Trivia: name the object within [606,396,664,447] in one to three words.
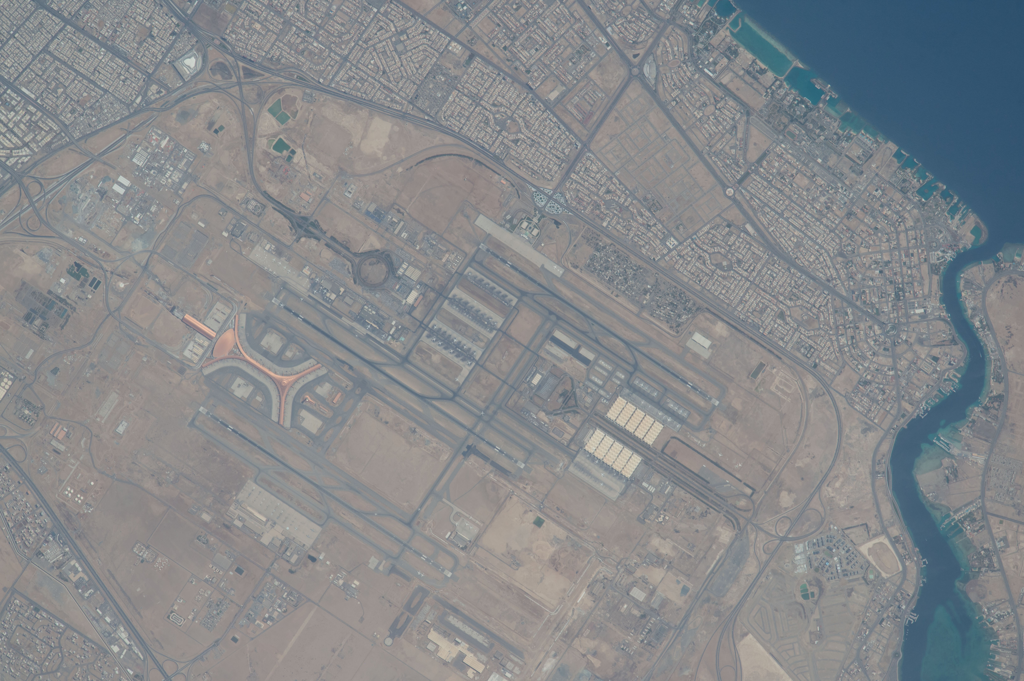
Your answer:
building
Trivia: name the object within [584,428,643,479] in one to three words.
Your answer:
building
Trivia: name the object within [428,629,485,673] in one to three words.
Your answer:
hangar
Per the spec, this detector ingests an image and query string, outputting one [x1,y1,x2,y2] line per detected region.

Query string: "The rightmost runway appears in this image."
[477,241,721,408]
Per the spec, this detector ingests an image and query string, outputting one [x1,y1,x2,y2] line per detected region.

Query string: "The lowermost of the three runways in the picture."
[197,405,453,577]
